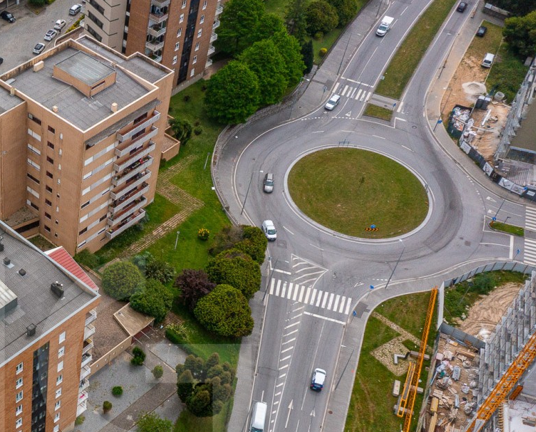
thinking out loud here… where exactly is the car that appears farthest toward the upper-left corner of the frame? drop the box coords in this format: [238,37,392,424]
[0,8,17,24]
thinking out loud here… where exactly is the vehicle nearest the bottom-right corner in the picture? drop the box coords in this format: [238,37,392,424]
[310,368,328,392]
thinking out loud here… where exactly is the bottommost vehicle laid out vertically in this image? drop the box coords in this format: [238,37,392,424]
[248,398,269,432]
